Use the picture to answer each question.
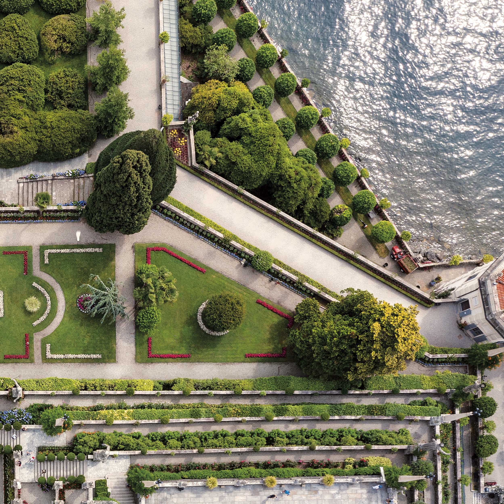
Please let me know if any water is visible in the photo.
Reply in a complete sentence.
Yes, there's water in this view.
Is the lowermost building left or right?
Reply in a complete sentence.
It is on the right.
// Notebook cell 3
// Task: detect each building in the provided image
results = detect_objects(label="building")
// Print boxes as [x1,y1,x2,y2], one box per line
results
[440,250,504,353]
[162,0,182,120]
